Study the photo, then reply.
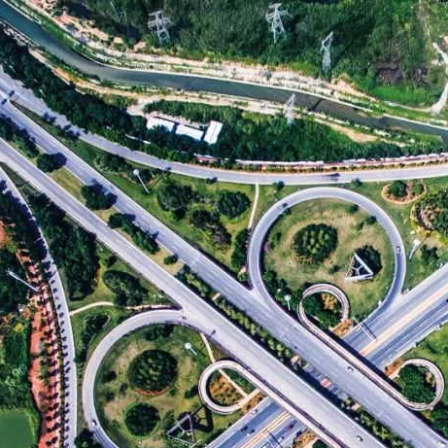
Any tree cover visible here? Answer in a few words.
Yes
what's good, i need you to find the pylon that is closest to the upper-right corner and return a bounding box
[321,27,333,77]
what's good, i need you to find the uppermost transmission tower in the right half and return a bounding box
[262,0,285,45]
